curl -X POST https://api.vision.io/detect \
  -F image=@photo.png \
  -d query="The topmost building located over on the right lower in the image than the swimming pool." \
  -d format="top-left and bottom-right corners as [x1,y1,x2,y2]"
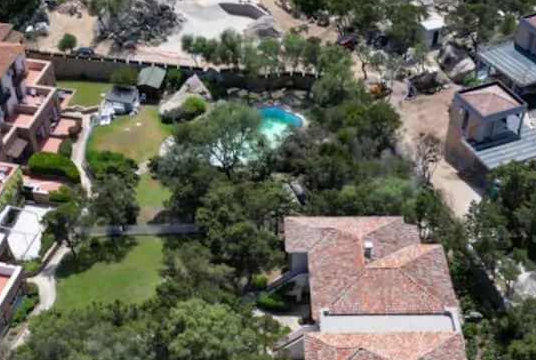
[269,216,465,334]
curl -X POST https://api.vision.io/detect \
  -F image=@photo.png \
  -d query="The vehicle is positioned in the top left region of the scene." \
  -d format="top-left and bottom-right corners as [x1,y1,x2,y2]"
[73,39,103,54]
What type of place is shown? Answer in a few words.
residential area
